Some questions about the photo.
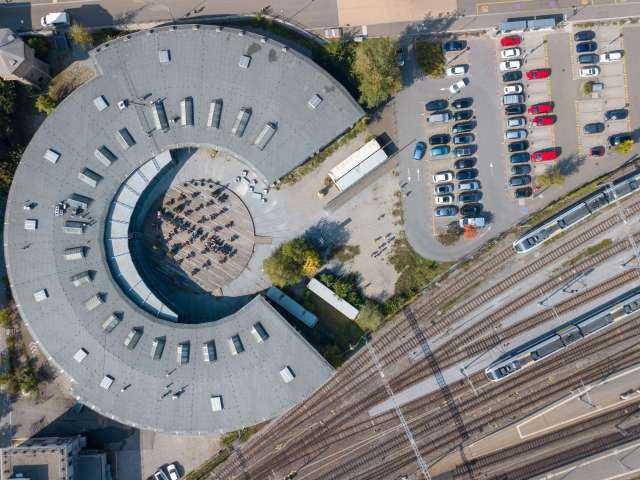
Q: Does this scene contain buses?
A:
Yes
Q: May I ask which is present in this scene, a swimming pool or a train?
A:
train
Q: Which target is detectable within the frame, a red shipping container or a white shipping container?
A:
white shipping container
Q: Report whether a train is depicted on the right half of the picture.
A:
Yes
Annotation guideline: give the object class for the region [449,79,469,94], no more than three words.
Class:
car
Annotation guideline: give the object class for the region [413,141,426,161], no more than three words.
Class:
vehicle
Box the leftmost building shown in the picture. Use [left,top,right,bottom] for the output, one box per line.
[0,435,87,480]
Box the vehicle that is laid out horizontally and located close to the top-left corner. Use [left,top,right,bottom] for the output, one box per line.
[42,13,69,26]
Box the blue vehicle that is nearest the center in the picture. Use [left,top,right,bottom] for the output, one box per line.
[267,286,318,328]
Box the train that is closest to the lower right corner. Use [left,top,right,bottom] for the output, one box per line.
[480,291,640,376]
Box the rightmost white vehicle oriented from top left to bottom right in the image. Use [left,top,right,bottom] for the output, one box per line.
[308,278,356,319]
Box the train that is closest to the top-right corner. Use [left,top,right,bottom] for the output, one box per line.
[508,171,640,252]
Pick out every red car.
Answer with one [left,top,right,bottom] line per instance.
[500,36,521,47]
[526,69,550,80]
[531,115,555,127]
[531,151,558,162]
[528,103,553,115]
